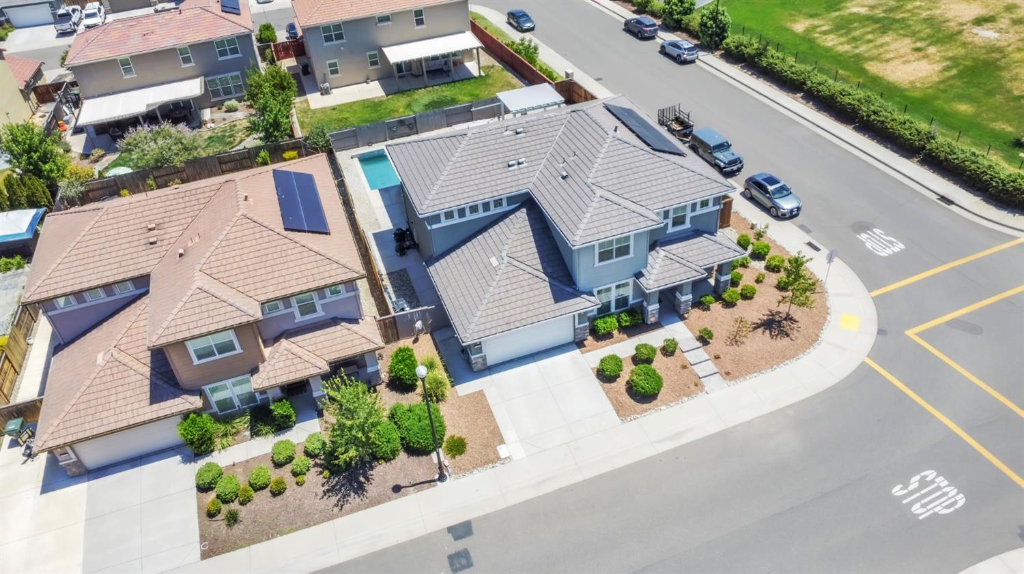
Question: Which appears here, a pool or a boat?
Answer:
pool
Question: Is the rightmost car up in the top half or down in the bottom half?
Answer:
top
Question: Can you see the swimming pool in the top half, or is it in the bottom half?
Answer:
top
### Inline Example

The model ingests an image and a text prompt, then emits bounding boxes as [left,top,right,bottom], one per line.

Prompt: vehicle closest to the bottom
[743,171,803,220]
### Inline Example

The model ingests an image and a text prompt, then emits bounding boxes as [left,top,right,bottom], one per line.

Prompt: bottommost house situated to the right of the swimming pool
[385,91,750,373]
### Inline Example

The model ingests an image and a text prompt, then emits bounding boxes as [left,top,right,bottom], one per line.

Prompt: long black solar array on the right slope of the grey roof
[601,102,688,157]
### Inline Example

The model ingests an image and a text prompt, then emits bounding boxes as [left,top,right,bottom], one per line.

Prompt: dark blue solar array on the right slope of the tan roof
[272,169,330,235]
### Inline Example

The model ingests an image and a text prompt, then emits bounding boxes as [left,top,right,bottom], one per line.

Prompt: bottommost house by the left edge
[20,152,386,479]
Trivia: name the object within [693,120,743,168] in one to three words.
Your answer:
vehicle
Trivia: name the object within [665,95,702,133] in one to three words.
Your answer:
trailer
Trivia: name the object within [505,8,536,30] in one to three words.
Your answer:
car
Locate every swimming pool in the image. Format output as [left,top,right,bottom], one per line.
[347,139,402,191]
